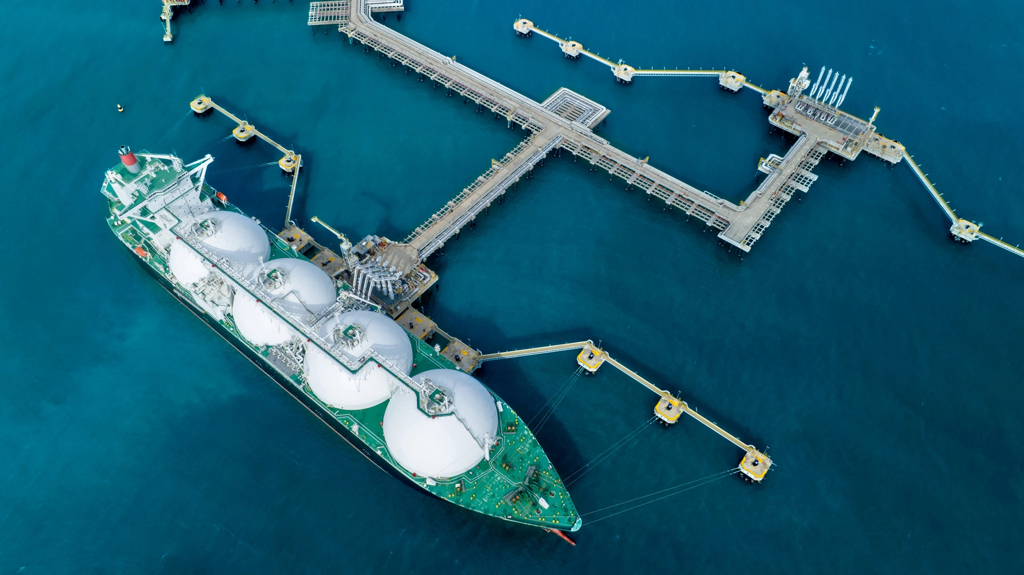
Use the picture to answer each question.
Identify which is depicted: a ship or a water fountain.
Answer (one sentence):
This aerial view contains a ship.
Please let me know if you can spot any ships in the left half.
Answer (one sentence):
Yes, a ship appears in the left half.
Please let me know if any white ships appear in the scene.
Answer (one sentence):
Yes, the photo shows a white ship.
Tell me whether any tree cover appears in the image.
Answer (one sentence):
No, no tree cover is visible.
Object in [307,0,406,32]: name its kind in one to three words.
pier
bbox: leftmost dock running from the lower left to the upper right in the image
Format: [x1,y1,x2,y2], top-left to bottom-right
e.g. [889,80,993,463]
[400,127,566,268]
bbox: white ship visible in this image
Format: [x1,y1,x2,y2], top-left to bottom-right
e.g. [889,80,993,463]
[94,139,583,545]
